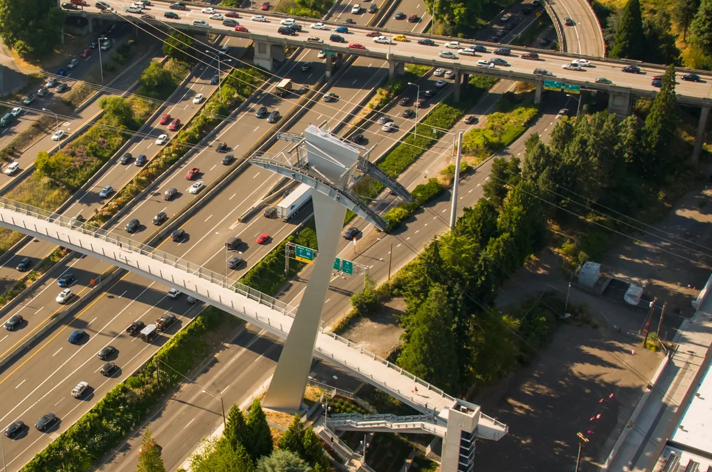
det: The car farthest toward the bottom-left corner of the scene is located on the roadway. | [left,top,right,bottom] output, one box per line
[2,420,26,438]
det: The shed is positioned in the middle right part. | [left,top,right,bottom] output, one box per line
[576,260,600,296]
